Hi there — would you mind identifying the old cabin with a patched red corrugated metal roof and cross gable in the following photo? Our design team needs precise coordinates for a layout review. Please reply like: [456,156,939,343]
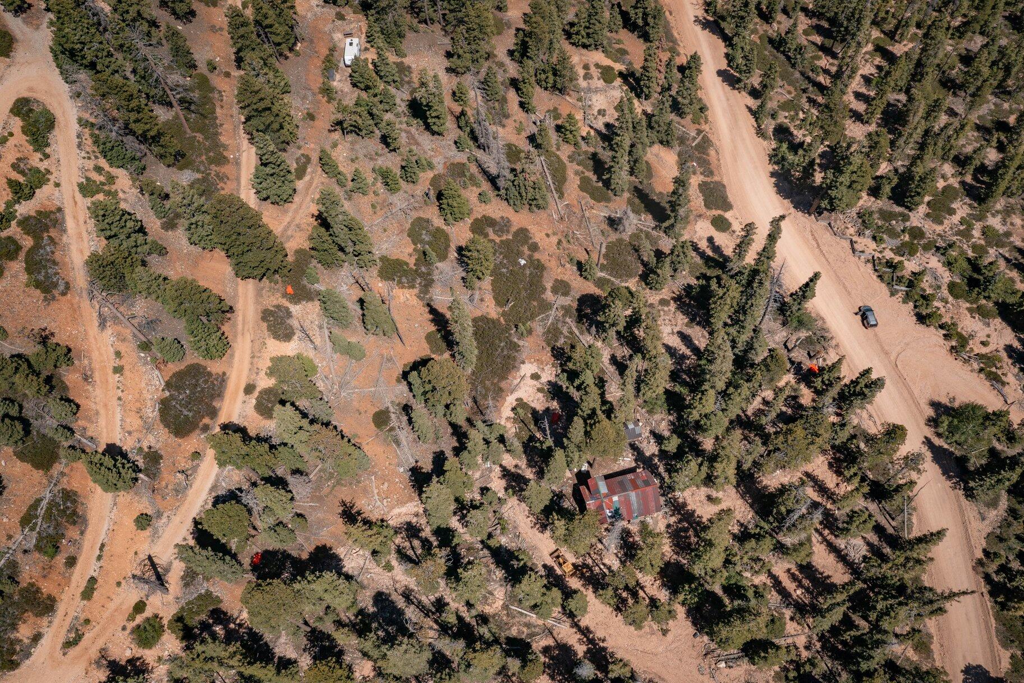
[580,469,661,529]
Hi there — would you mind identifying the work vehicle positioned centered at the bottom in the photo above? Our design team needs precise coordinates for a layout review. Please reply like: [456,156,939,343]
[550,548,586,576]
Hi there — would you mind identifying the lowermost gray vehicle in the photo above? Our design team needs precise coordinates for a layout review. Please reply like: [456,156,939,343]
[857,305,878,330]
